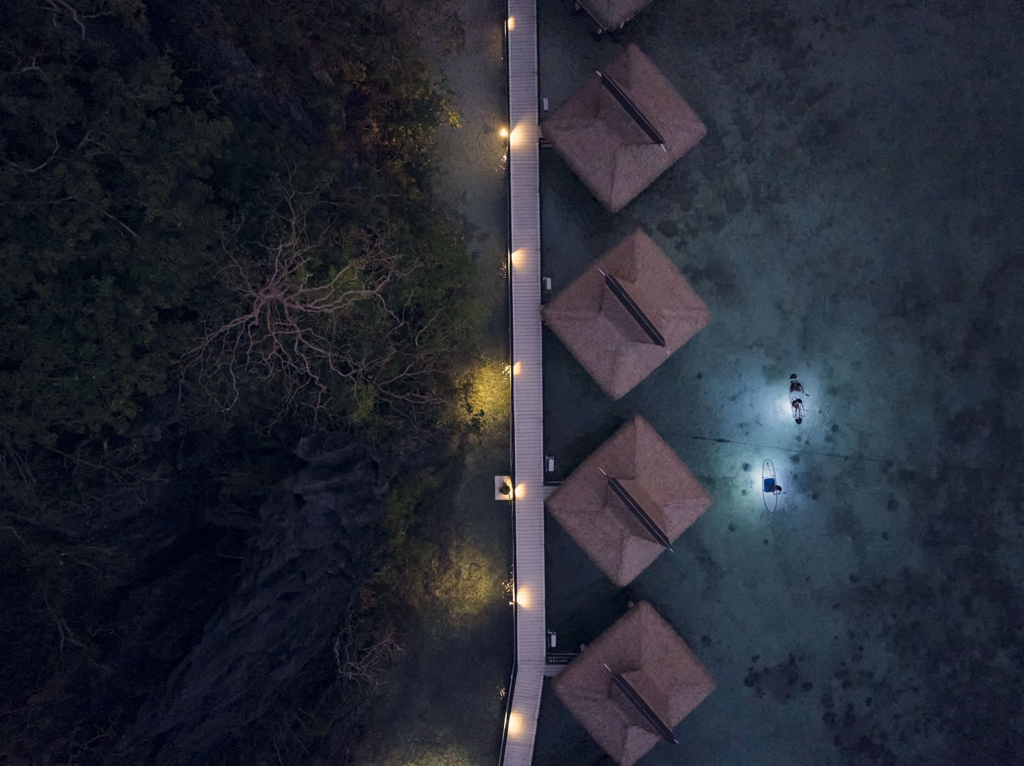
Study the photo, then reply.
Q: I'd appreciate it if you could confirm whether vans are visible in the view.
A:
No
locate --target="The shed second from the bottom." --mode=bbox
[543,418,713,586]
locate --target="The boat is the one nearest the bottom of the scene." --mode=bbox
[761,459,778,514]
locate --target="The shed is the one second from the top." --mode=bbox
[541,44,710,211]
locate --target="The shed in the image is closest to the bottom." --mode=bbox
[550,599,717,766]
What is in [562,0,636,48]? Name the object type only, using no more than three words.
shed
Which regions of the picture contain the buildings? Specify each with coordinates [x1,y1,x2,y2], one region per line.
[541,228,712,398]
[541,44,710,211]
[550,599,717,766]
[562,0,636,48]
[543,418,713,586]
